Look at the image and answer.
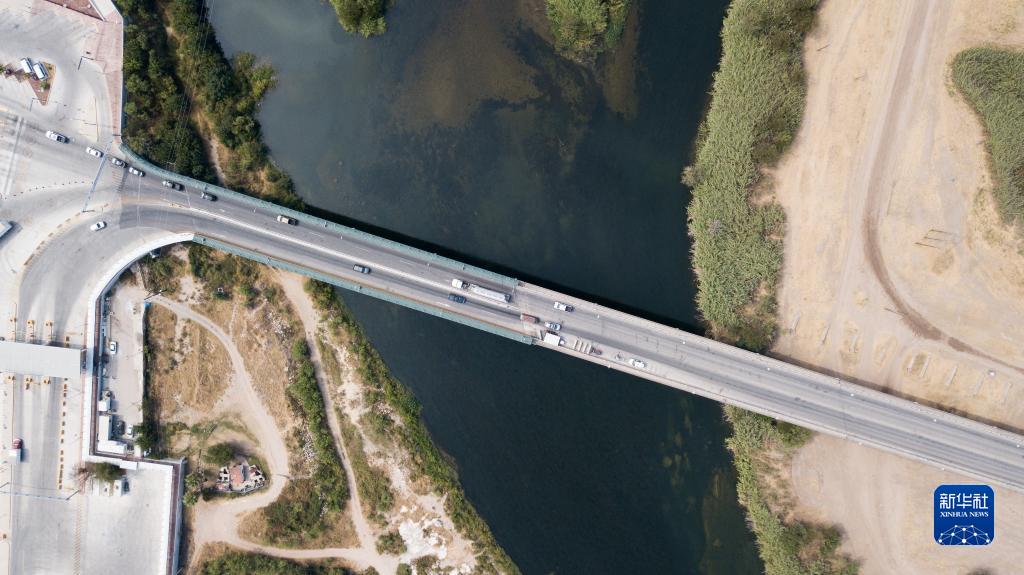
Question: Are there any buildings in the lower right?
No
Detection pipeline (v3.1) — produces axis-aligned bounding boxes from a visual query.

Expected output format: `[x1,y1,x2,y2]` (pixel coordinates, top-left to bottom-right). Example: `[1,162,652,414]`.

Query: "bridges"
[117,146,1024,491]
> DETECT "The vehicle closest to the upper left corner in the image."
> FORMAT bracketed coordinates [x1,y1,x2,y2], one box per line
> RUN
[47,130,66,143]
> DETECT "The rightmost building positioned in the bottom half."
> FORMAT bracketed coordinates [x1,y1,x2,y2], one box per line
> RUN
[215,463,265,492]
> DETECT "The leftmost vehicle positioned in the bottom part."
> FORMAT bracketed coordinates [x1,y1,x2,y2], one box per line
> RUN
[9,438,24,467]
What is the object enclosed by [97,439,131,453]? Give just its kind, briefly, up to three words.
building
